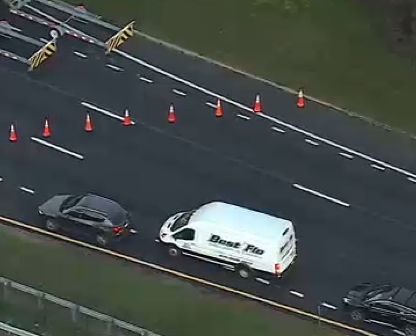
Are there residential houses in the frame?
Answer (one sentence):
No, there appears to be no residential house in this shot.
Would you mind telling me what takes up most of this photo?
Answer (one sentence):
What you mostly see from above here is paved ground.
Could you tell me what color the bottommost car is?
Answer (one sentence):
The bottommost car looks black in the image.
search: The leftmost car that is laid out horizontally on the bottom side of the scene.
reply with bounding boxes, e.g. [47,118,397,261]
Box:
[35,190,134,245]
